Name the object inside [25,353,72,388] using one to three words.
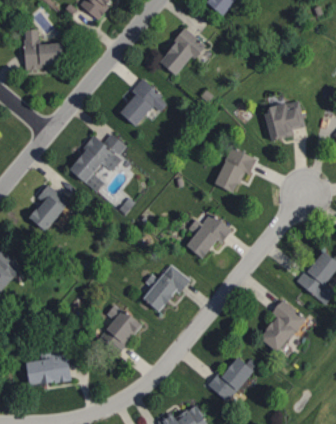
house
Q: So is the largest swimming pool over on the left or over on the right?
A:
left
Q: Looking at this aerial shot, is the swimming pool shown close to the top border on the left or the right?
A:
left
